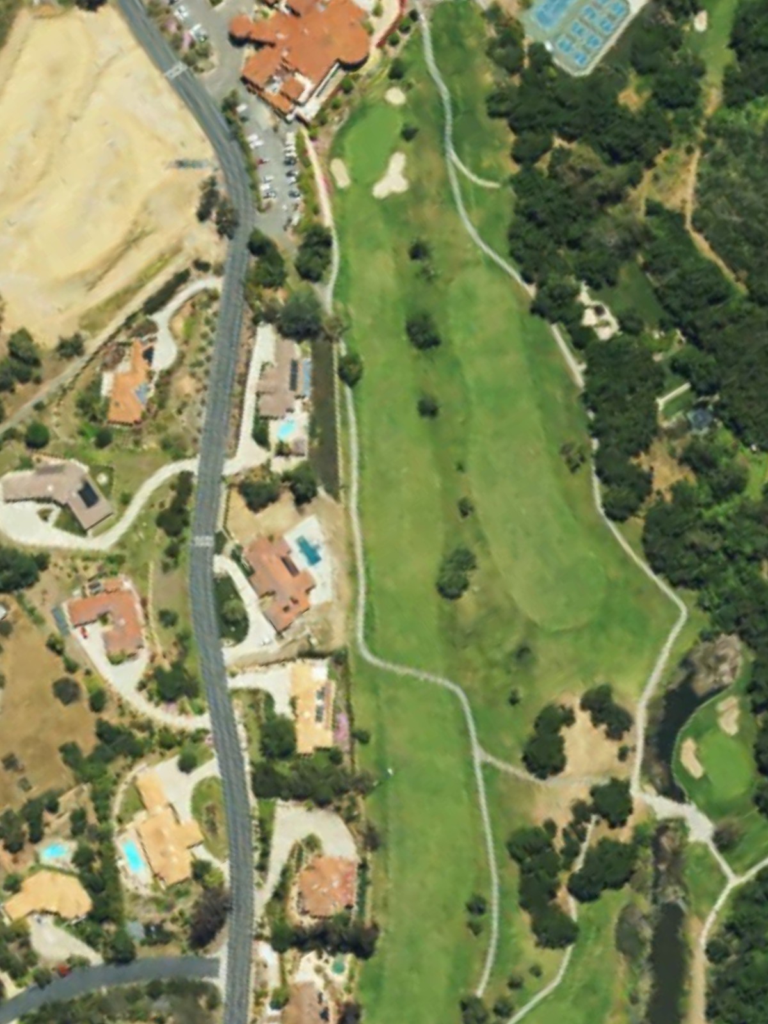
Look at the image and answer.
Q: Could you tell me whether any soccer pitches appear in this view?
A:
No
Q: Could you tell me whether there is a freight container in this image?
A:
No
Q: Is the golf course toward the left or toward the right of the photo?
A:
right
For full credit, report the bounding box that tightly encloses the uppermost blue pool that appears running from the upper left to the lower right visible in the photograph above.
[296,536,321,565]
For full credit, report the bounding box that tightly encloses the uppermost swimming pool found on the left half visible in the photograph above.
[278,419,296,438]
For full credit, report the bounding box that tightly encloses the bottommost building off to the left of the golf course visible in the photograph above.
[288,983,331,1024]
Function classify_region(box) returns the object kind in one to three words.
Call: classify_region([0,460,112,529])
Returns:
house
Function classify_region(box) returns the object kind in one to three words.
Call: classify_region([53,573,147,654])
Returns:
house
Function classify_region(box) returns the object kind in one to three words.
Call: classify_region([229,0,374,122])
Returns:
building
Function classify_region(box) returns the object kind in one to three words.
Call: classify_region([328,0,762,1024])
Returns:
golf course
